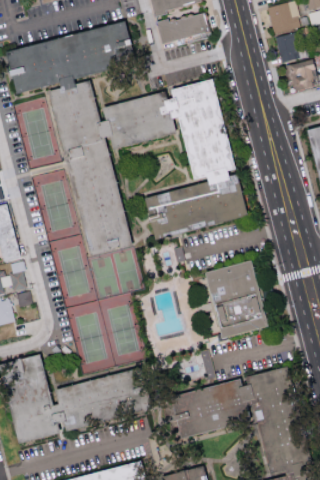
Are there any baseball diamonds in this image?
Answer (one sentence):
No, there appears to be no baseball diamond in this shot.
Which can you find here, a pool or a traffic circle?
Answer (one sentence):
I can see a pool in this picture.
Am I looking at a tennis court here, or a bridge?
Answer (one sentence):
Of the two, only a tennis court appears.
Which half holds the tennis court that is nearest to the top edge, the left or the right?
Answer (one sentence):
You can find the tennis court that is nearest to the top edge on the left side of the picture.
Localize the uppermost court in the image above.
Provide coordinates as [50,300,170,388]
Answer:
[16,98,63,168]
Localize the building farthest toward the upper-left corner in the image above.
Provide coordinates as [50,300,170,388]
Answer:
[8,21,136,94]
